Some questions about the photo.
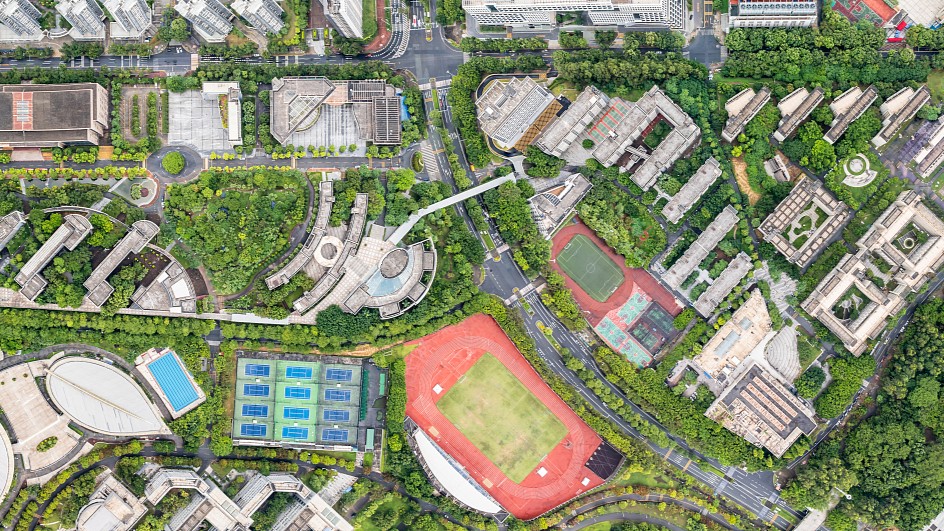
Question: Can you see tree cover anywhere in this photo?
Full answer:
Yes, tree cover can be seen from above here.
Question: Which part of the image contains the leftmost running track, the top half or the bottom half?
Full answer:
The leftmost running track is in the bottom half of the image.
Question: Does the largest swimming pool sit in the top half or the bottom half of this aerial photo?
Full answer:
You can find the largest swimming pool in the bottom half.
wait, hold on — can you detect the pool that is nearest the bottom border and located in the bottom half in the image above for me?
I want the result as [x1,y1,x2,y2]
[136,348,204,419]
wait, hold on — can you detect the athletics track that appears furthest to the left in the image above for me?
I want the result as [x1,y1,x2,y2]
[404,313,626,520]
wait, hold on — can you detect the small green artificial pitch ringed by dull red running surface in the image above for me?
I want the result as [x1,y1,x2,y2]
[551,219,683,327]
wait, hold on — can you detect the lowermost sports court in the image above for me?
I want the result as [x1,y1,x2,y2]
[584,442,625,483]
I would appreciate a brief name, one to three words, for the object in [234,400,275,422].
tennis court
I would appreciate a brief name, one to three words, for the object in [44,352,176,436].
building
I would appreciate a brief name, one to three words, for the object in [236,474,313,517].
building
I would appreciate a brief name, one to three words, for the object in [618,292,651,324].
basketball court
